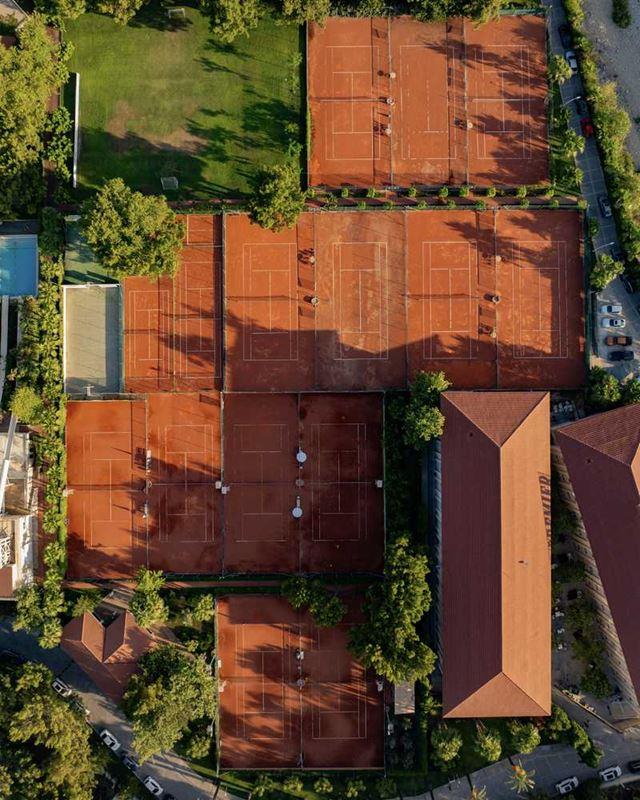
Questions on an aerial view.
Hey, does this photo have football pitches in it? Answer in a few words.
Yes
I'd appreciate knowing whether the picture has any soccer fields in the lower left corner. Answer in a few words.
No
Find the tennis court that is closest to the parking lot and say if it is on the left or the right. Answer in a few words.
right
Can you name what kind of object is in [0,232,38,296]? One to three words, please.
swimming pool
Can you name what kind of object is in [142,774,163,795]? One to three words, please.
car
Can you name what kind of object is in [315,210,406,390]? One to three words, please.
tennis court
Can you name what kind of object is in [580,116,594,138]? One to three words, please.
car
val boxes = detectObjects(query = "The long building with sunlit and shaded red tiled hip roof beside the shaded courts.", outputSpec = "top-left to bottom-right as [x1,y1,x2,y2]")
[429,391,551,718]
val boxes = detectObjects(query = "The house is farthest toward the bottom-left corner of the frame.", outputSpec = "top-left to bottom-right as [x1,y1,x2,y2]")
[59,602,159,705]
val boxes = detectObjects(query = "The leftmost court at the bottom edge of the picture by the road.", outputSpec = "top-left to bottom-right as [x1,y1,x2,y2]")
[218,596,301,770]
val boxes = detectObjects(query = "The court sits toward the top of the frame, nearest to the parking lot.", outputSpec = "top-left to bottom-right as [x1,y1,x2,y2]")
[497,210,586,390]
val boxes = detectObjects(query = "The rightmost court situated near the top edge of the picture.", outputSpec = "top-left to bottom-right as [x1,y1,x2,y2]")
[467,16,548,186]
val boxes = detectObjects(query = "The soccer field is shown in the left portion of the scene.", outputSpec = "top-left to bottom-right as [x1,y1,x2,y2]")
[76,9,301,192]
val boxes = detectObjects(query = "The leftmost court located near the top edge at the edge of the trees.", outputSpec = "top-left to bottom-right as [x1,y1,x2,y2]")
[309,16,391,186]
